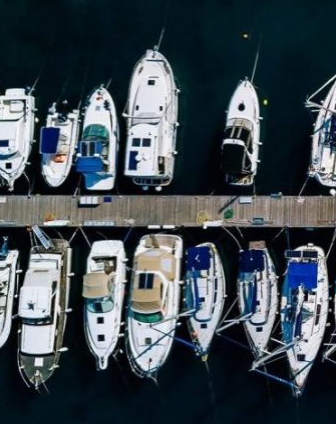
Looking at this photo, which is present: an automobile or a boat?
boat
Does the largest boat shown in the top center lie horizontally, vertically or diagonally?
vertically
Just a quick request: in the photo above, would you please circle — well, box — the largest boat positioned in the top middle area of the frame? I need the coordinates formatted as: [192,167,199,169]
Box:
[123,41,185,186]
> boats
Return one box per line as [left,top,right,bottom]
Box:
[123,41,185,186]
[0,237,22,347]
[77,80,121,189]
[81,240,131,372]
[214,241,282,356]
[222,73,265,184]
[11,227,77,389]
[302,76,336,186]
[41,103,80,186]
[251,243,335,395]
[125,233,186,385]
[150,243,229,361]
[0,89,40,193]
